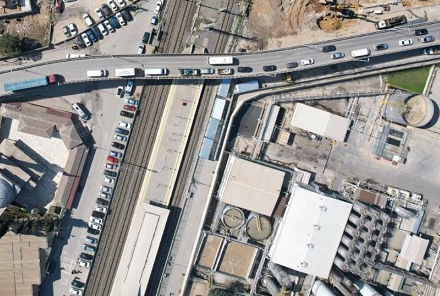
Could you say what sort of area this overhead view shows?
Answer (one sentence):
What you see here is an industrial area.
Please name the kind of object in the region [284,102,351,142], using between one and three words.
shed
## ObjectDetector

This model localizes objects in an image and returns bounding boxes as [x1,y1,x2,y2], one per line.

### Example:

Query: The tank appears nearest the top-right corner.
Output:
[389,93,437,128]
